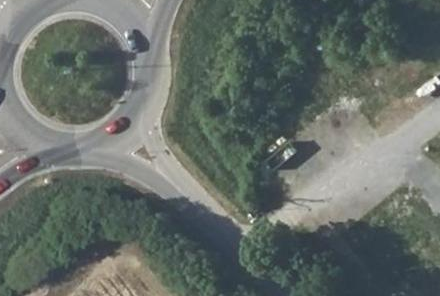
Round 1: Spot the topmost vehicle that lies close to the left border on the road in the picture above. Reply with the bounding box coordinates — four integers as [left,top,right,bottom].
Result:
[16,156,38,172]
